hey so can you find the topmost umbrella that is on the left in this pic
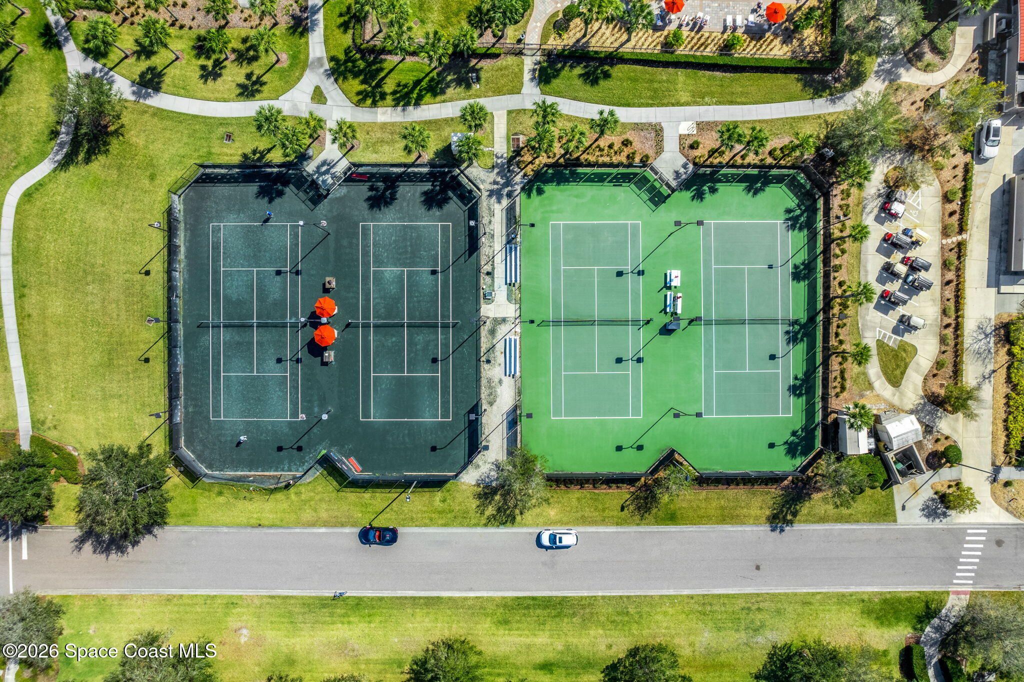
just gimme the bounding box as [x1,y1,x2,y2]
[315,297,336,318]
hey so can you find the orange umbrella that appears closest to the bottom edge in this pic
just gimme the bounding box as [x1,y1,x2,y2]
[314,325,336,347]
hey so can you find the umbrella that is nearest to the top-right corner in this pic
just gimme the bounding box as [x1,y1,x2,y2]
[765,2,786,24]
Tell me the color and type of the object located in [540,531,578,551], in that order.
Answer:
white car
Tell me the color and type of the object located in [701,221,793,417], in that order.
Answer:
green tennis court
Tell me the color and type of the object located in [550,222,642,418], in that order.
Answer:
green tennis court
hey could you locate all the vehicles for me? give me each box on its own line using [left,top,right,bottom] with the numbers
[882,260,910,278]
[898,313,926,329]
[540,531,578,551]
[974,117,1000,159]
[904,228,933,246]
[884,233,912,250]
[903,256,932,273]
[359,528,396,548]
[879,200,908,218]
[882,187,911,204]
[905,274,934,292]
[881,288,910,306]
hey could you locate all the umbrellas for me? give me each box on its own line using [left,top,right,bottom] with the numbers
[315,297,336,318]
[765,2,786,24]
[664,0,684,15]
[314,325,336,347]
